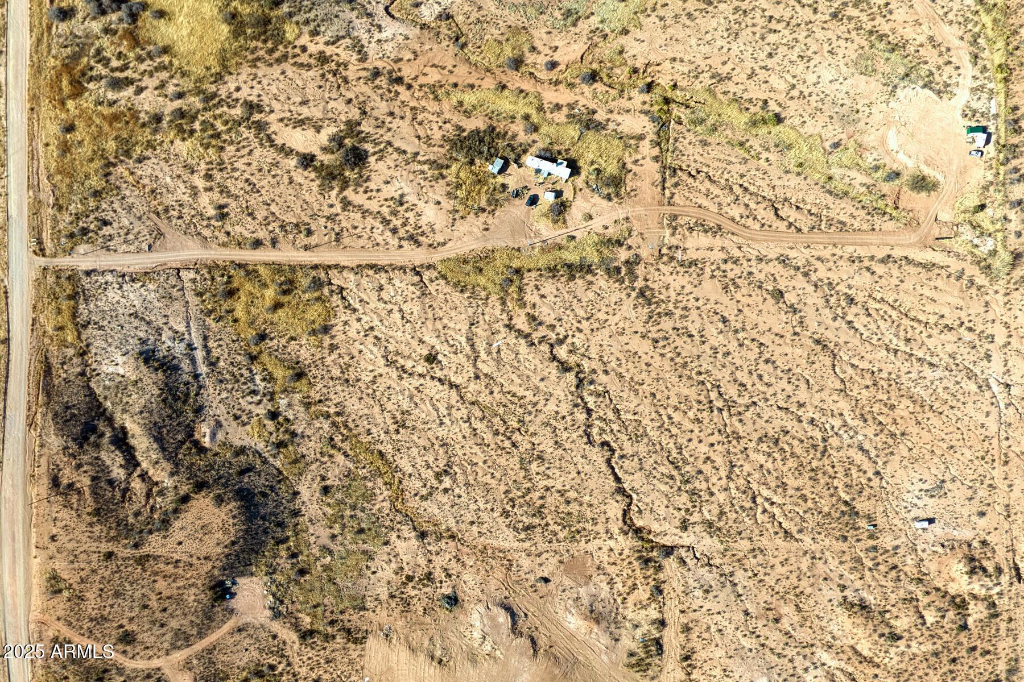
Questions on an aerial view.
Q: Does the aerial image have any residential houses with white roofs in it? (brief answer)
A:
Yes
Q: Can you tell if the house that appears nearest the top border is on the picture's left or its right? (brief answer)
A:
right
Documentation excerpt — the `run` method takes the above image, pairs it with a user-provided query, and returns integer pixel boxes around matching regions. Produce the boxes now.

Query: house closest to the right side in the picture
[963,126,986,150]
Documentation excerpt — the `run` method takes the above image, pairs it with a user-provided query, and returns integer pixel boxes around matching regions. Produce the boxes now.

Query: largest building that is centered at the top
[526,158,572,183]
